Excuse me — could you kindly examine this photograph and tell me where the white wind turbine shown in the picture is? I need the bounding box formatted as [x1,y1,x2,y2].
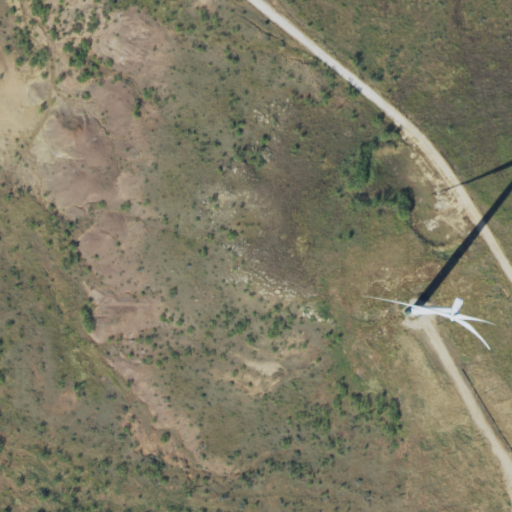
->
[366,296,497,350]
